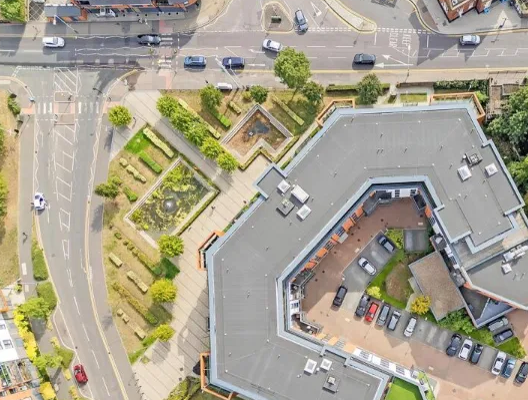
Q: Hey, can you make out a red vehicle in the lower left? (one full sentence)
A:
Yes, you'll find a red vehicle in the lower left.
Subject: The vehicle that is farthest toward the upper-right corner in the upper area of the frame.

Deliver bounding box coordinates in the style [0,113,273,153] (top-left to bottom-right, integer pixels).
[459,34,480,46]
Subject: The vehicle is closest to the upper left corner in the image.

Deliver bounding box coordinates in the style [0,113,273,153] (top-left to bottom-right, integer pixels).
[42,35,64,48]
